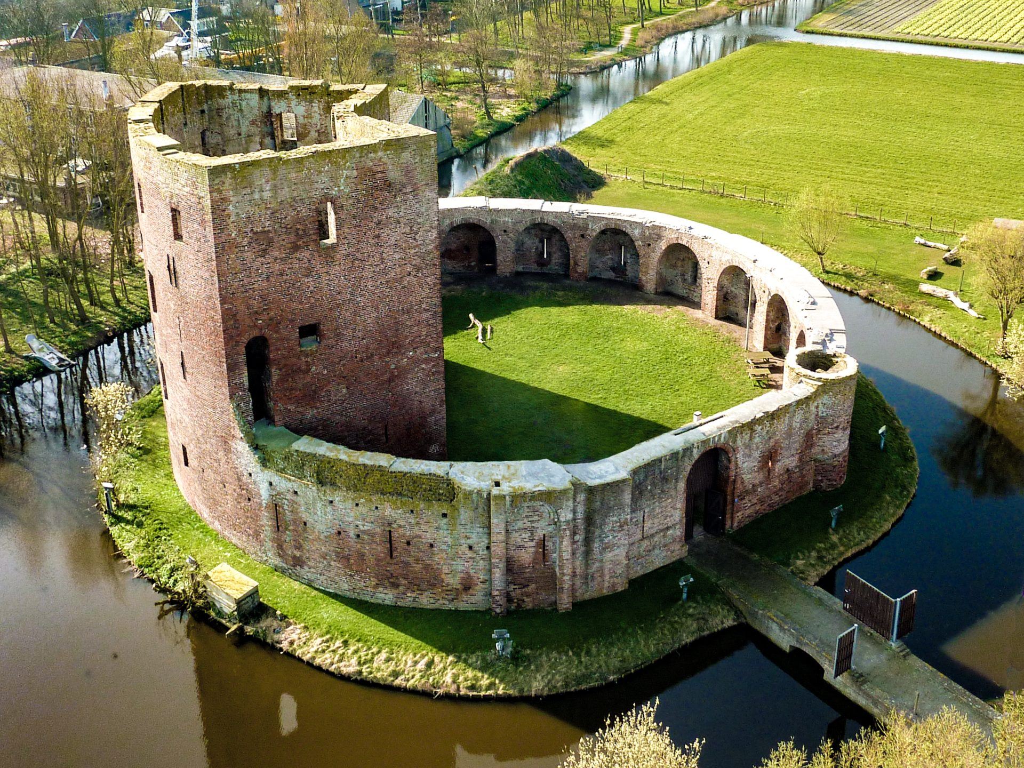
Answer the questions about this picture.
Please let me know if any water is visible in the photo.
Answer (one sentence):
Yes, there's water in this view.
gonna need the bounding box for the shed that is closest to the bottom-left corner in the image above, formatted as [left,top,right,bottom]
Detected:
[205,563,258,621]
